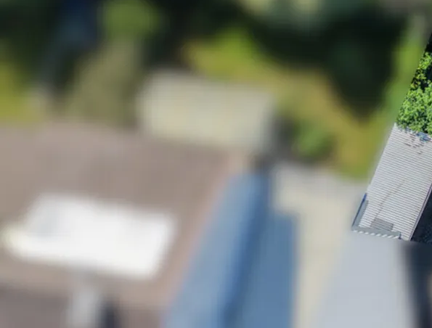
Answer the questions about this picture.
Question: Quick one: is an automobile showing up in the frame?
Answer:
No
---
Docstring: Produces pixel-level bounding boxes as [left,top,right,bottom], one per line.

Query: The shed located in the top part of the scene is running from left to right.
[135,72,293,142]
